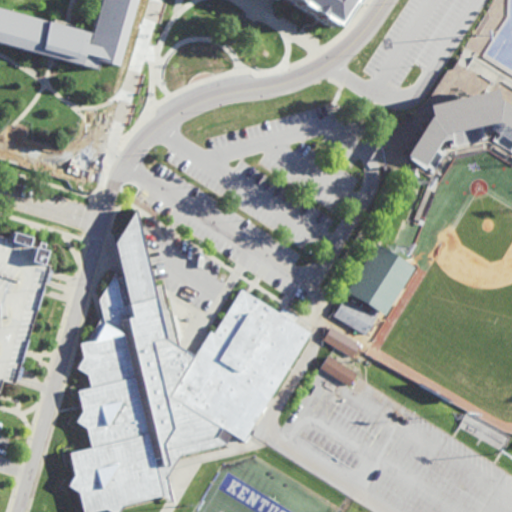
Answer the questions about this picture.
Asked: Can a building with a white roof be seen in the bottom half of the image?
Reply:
Yes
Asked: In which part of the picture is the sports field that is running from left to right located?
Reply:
bottom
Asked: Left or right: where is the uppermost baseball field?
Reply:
right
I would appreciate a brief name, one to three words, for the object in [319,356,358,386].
house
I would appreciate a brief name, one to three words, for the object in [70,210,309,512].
building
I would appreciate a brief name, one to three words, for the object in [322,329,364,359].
house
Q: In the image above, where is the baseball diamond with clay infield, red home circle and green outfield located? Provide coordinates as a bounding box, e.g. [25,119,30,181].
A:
[366,152,512,434]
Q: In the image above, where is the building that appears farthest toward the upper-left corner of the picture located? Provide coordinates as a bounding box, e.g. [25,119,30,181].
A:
[0,0,141,69]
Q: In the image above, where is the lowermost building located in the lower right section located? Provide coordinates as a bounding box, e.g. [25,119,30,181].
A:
[458,414,509,449]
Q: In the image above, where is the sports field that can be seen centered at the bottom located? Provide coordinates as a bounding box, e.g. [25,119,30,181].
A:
[192,455,348,512]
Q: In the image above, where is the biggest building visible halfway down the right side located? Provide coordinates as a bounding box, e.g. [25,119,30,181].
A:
[352,245,416,315]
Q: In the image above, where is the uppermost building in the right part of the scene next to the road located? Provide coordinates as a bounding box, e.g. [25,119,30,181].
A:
[303,0,356,29]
